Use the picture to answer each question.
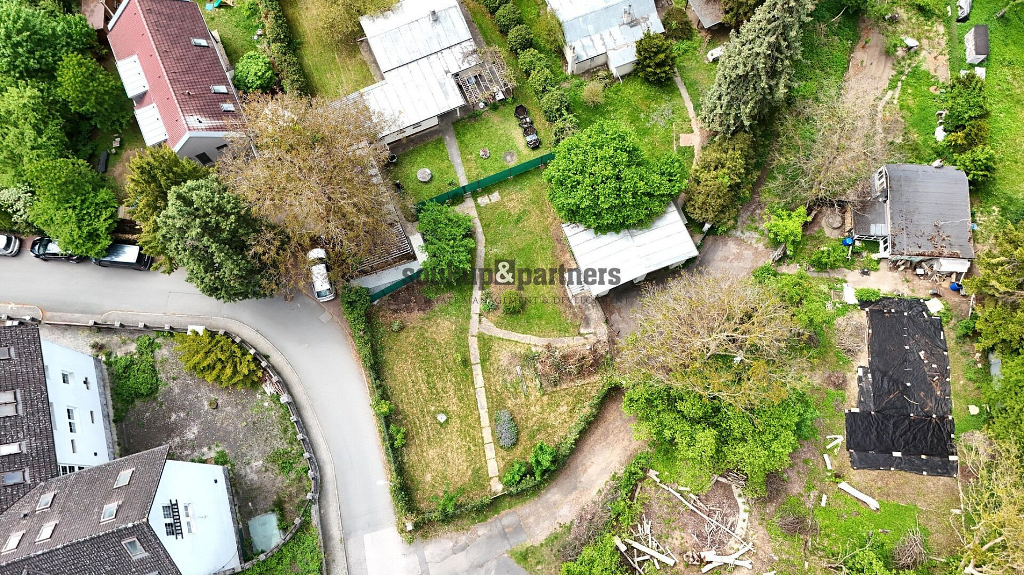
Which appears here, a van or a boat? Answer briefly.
van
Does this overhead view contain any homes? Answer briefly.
Yes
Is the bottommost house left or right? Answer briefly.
left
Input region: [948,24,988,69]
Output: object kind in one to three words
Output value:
shed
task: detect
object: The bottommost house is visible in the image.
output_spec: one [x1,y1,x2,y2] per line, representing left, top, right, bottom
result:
[0,450,240,575]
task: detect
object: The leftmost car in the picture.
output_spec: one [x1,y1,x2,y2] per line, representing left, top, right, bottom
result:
[0,236,23,260]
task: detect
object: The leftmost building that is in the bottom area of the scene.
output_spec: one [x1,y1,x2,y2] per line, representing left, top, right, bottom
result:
[0,329,107,499]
